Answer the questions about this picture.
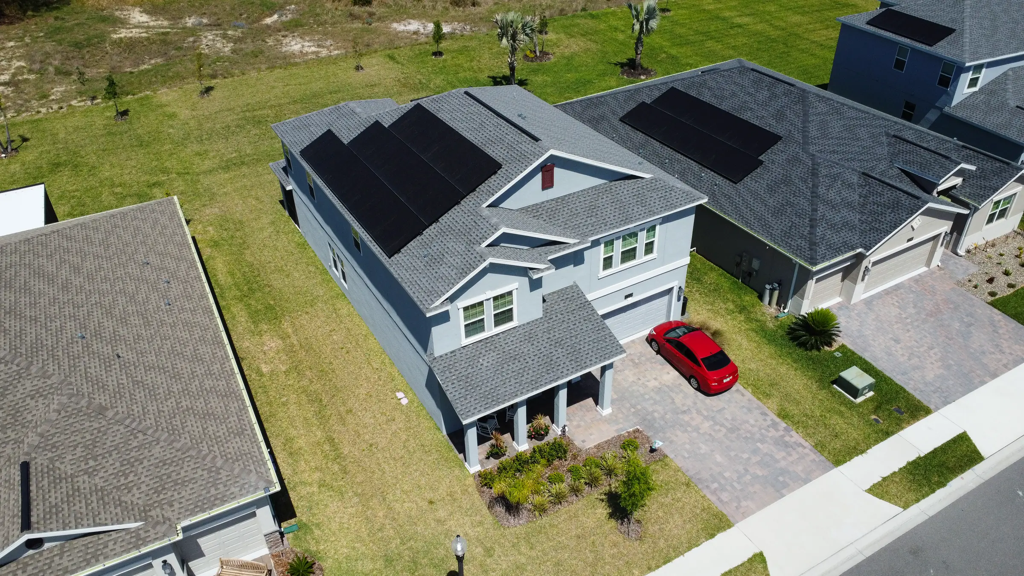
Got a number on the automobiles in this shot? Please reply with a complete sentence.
I count 1 automobile.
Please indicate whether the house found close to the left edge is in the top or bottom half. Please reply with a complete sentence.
You can find the house found close to the left edge in the bottom half.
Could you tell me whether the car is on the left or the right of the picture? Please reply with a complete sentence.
The car is on the right side of the image.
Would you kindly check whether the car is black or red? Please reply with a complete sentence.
From above, the car appears red.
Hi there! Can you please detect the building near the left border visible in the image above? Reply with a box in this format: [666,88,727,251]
[0,185,283,576]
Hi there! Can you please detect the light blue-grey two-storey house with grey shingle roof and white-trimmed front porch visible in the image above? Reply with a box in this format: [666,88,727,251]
[269,84,712,473]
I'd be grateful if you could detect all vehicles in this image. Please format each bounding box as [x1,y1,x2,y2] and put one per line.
[651,319,743,395]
